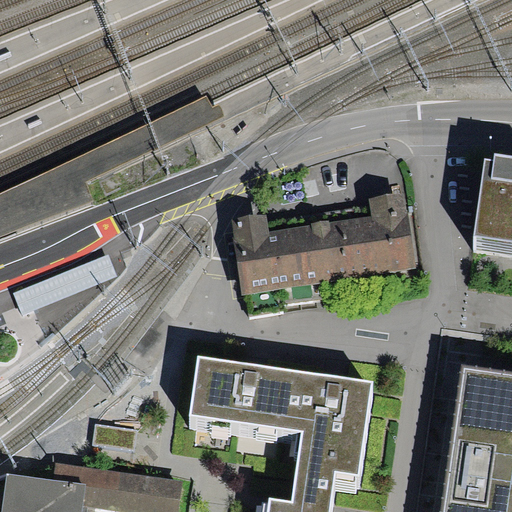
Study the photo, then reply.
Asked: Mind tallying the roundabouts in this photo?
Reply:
0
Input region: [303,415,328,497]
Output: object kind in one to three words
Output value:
solar array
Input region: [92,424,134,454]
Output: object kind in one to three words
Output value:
shed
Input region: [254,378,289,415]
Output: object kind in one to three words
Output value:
solar array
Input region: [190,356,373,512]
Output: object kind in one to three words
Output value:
building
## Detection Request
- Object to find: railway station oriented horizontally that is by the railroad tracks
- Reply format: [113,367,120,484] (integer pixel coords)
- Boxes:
[0,0,505,190]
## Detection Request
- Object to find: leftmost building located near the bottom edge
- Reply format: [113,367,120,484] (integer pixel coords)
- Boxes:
[2,474,86,512]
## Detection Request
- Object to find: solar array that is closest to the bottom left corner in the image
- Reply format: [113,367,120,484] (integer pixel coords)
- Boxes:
[210,372,234,408]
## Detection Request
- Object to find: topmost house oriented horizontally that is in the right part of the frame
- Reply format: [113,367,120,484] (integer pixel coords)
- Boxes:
[232,183,417,296]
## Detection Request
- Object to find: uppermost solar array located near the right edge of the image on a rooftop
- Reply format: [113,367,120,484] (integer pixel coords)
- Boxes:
[461,372,512,436]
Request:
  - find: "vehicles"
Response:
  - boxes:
[448,182,458,204]
[337,162,348,187]
[447,156,466,166]
[322,166,333,186]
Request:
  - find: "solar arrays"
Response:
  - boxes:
[461,372,512,436]
[303,415,328,497]
[492,484,508,500]
[210,372,234,408]
[450,504,507,512]
[254,378,289,415]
